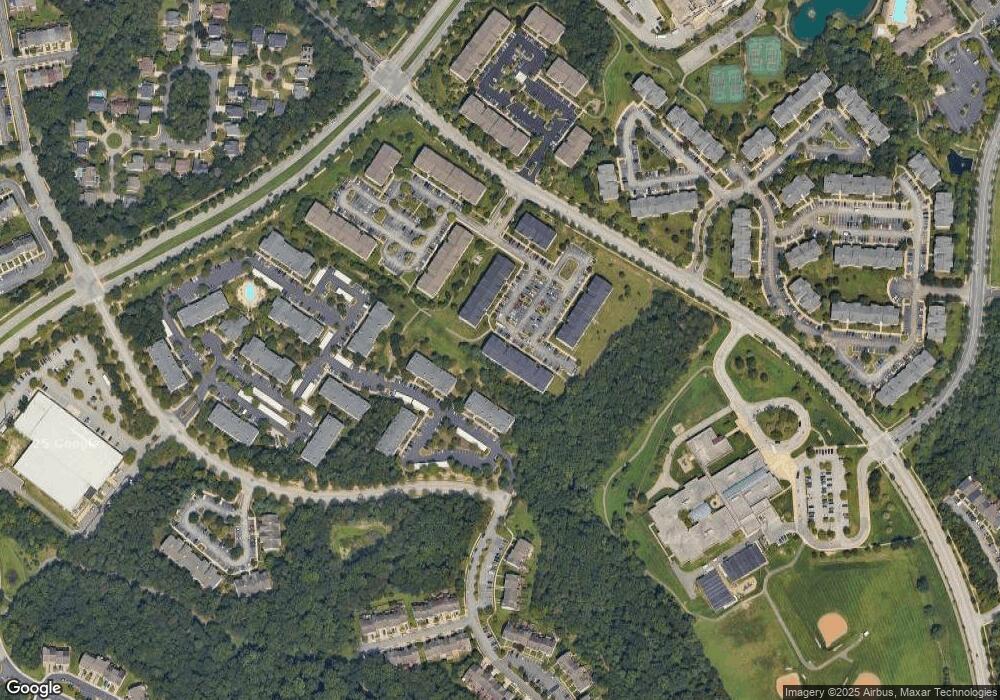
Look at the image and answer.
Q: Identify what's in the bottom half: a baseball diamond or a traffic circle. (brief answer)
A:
baseball diamond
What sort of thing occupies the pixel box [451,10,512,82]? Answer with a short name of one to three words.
building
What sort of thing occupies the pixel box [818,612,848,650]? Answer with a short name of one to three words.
baseball field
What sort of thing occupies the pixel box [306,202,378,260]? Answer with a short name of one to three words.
building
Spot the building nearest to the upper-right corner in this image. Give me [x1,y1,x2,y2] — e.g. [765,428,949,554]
[896,0,956,55]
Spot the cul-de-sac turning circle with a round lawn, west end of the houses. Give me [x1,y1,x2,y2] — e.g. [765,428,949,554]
[99,125,130,156]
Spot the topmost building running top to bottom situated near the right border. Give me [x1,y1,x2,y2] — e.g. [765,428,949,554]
[935,192,952,229]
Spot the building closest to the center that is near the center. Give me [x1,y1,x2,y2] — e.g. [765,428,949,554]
[481,334,554,391]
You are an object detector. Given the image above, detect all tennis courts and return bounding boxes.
[747,37,765,75]
[710,66,728,103]
[728,66,744,103]
[764,37,781,75]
